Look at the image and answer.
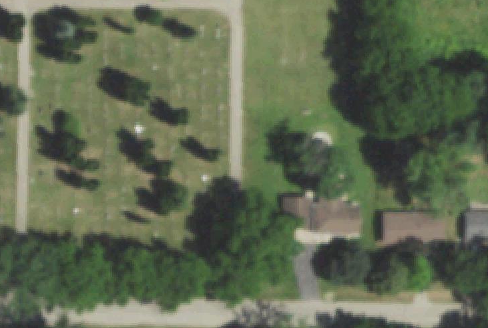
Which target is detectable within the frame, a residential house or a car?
residential house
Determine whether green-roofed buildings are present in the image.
No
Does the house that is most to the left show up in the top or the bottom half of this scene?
bottom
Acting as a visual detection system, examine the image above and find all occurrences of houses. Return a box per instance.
[279,193,364,234]
[382,211,447,241]
[463,203,488,241]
